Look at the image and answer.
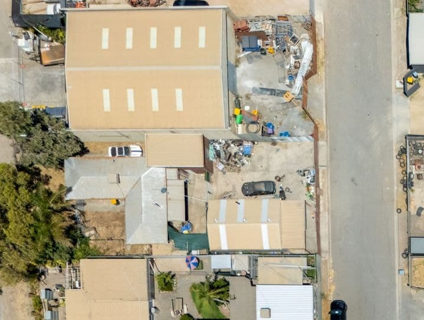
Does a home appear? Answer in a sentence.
Yes, I can see a home in this picture.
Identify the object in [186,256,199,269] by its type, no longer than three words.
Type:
umbrella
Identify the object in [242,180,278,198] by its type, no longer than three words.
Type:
car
